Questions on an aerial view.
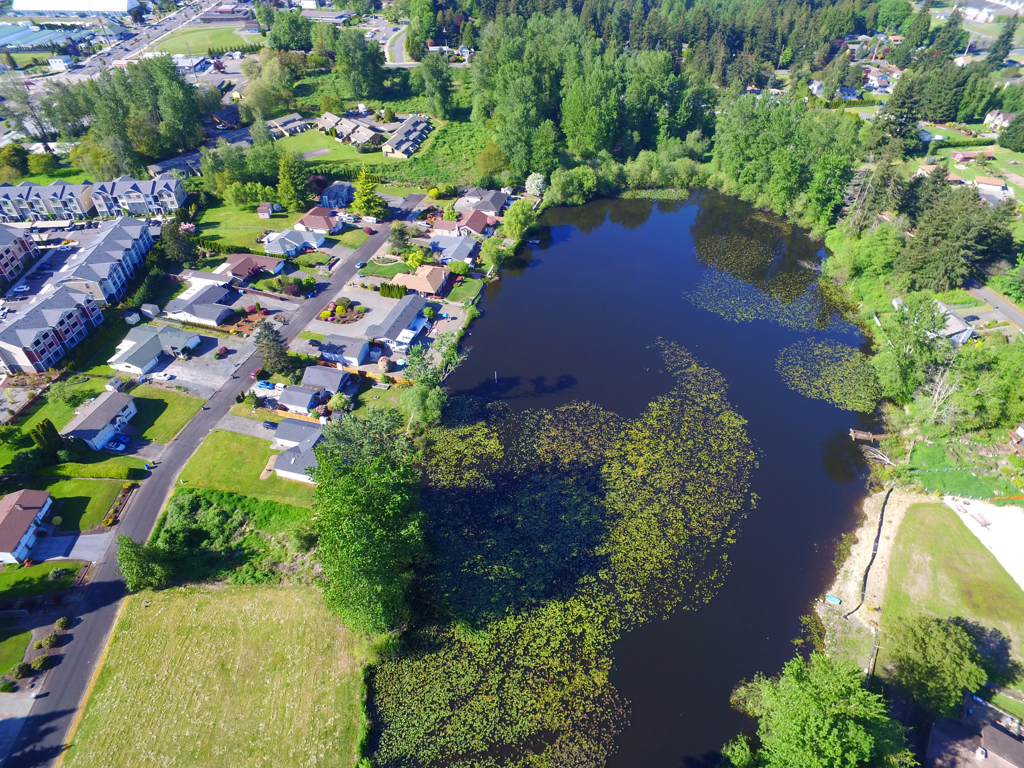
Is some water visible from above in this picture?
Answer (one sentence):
Yes, water can be seen from above here.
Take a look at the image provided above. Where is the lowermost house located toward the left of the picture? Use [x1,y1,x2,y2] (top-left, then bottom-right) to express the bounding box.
[0,487,60,563]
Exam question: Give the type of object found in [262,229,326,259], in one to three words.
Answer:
house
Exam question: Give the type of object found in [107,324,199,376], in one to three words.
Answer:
building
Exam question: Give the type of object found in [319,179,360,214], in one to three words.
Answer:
house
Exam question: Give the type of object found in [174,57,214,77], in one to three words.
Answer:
building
